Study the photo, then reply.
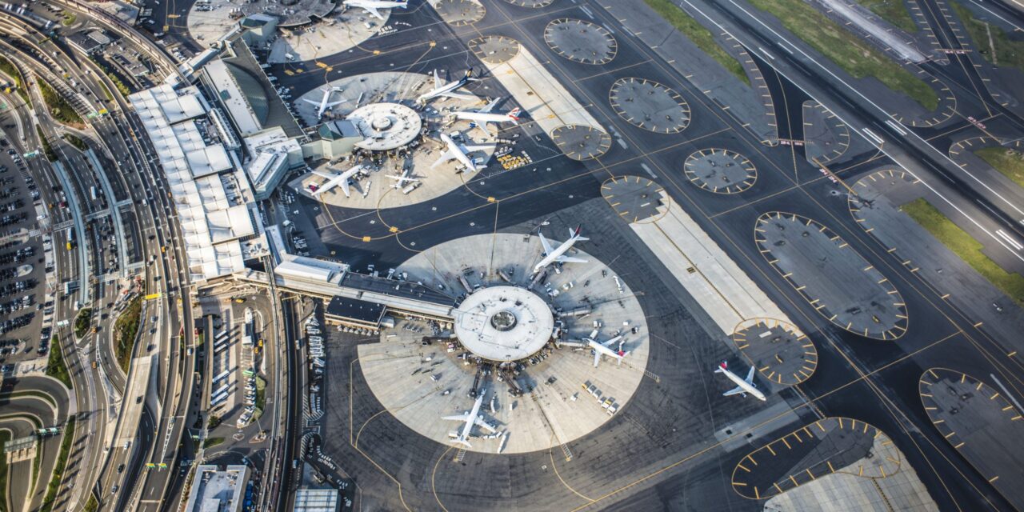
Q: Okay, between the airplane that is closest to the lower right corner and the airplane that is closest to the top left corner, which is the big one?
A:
the airplane that is closest to the lower right corner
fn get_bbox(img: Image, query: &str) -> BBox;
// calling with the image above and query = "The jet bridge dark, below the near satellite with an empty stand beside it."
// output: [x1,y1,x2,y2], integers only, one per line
[501,368,522,395]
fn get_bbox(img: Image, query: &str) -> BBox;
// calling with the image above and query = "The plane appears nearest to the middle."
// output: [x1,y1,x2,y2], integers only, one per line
[534,226,586,271]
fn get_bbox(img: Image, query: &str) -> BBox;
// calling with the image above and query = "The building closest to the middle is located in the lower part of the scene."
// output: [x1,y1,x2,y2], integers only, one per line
[455,287,553,363]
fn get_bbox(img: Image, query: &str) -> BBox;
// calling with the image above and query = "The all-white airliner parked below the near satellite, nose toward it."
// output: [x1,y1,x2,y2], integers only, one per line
[442,390,497,447]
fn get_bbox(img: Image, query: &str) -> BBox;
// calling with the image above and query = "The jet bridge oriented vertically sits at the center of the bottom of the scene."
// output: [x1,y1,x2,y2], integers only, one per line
[470,368,482,397]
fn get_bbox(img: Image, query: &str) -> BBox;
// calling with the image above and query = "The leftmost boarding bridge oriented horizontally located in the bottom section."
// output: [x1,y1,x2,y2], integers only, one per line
[423,331,457,346]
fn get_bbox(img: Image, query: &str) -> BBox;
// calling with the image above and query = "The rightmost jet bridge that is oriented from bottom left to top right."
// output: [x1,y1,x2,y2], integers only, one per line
[526,266,545,292]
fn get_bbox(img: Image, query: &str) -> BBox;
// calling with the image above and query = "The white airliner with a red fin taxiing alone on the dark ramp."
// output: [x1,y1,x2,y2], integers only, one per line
[712,358,766,401]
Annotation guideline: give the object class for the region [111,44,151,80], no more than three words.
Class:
building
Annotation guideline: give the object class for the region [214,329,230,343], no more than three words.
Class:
vehicle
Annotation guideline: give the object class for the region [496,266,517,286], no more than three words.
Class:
jet bridge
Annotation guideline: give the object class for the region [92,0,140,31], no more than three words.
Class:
shed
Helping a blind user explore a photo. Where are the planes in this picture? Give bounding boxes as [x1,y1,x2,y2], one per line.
[442,390,497,447]
[306,166,363,198]
[712,358,766,401]
[587,336,630,368]
[304,86,345,119]
[534,226,586,271]
[434,135,492,174]
[452,98,519,138]
[417,65,475,104]
[385,168,418,188]
[339,0,407,16]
